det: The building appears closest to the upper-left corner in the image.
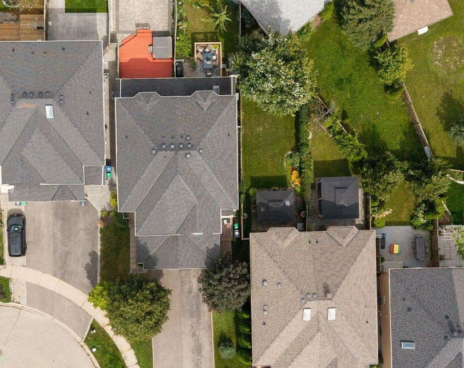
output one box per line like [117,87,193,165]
[0,40,107,201]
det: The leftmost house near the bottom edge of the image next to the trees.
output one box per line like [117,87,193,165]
[250,226,378,368]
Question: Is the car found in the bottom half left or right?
left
